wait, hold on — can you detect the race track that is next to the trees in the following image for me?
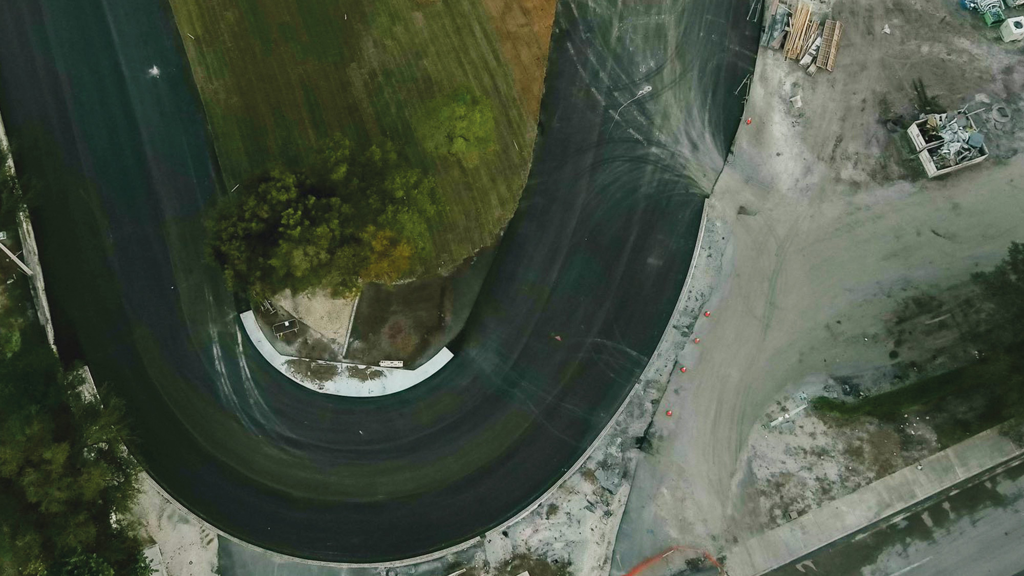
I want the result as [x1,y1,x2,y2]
[0,0,763,562]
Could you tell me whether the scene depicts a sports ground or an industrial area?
sports ground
